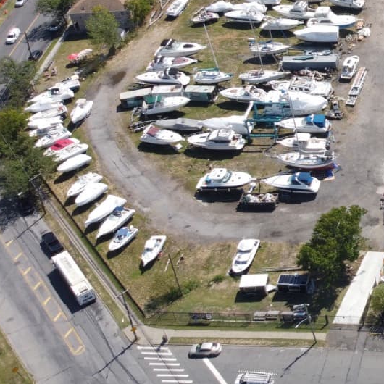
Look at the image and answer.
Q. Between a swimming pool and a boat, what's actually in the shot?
boat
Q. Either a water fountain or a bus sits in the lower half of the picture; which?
bus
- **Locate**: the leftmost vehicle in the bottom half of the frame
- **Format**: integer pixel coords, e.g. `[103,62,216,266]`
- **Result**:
[42,231,58,257]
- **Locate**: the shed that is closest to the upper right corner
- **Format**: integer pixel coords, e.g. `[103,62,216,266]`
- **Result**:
[185,84,222,102]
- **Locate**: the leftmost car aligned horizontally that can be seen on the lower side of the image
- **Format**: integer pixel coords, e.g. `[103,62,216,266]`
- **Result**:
[188,342,223,358]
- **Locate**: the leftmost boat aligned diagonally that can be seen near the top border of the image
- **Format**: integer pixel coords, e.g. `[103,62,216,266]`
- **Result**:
[162,0,189,20]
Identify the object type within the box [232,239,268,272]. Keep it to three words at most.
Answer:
boat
